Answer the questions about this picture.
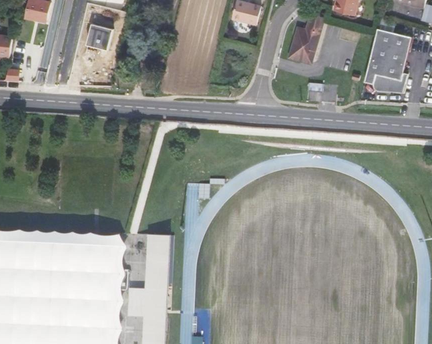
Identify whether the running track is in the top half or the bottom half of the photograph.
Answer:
bottom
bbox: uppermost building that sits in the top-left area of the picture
[24,0,52,24]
